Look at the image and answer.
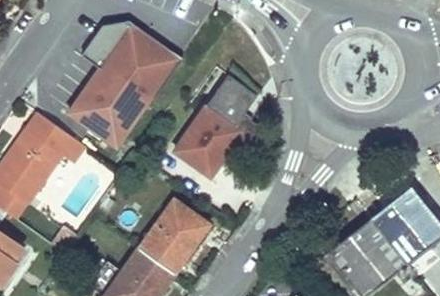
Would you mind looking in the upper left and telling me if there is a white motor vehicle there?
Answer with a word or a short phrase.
Yes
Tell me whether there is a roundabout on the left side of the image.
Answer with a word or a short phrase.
No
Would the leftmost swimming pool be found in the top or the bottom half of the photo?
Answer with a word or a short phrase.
bottom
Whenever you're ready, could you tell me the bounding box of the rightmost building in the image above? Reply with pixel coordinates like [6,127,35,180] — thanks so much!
[324,188,440,296]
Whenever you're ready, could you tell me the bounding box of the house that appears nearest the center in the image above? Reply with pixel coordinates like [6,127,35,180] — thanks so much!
[174,106,246,181]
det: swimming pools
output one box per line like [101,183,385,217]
[60,172,101,219]
[119,208,138,228]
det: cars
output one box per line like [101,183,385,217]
[250,0,270,14]
[269,10,289,29]
[180,176,200,194]
[78,13,96,34]
[334,18,355,33]
[399,18,421,31]
[242,252,258,274]
[176,0,192,18]
[36,0,45,11]
[424,84,440,100]
[14,13,33,33]
[160,153,180,171]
